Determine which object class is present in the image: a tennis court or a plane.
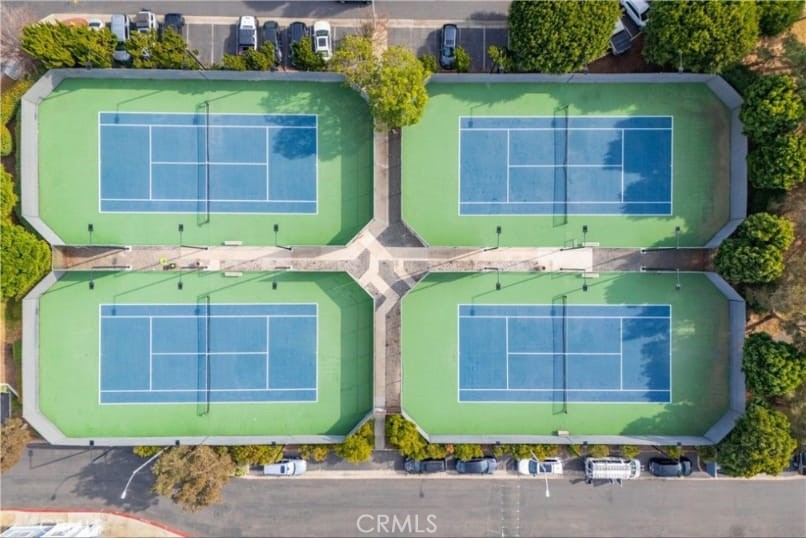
tennis court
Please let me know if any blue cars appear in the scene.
Yes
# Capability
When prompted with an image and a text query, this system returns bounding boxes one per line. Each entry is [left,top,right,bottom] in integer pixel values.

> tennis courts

[39,80,372,246]
[402,272,730,436]
[402,82,731,247]
[39,271,372,436]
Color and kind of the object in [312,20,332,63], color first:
white car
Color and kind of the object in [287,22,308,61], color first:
blue car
